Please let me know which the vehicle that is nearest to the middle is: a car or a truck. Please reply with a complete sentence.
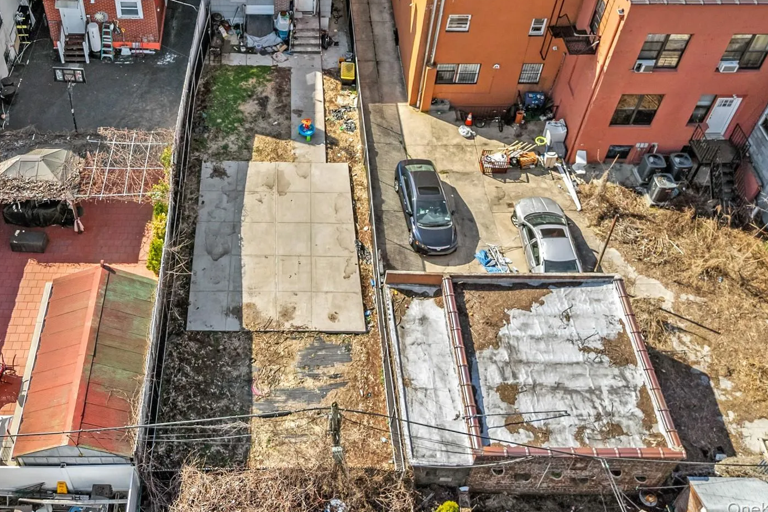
It looks like the vehicle that is nearest to the middle is a car.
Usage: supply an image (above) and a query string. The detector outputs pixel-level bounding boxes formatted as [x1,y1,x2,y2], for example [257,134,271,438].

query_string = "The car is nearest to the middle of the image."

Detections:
[401,161,462,259]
